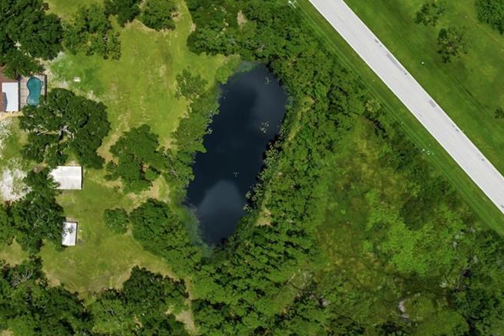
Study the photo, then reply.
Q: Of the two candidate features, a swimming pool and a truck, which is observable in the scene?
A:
swimming pool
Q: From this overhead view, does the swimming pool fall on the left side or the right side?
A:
left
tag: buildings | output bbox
[0,61,19,114]
[47,166,82,189]
[62,222,76,245]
